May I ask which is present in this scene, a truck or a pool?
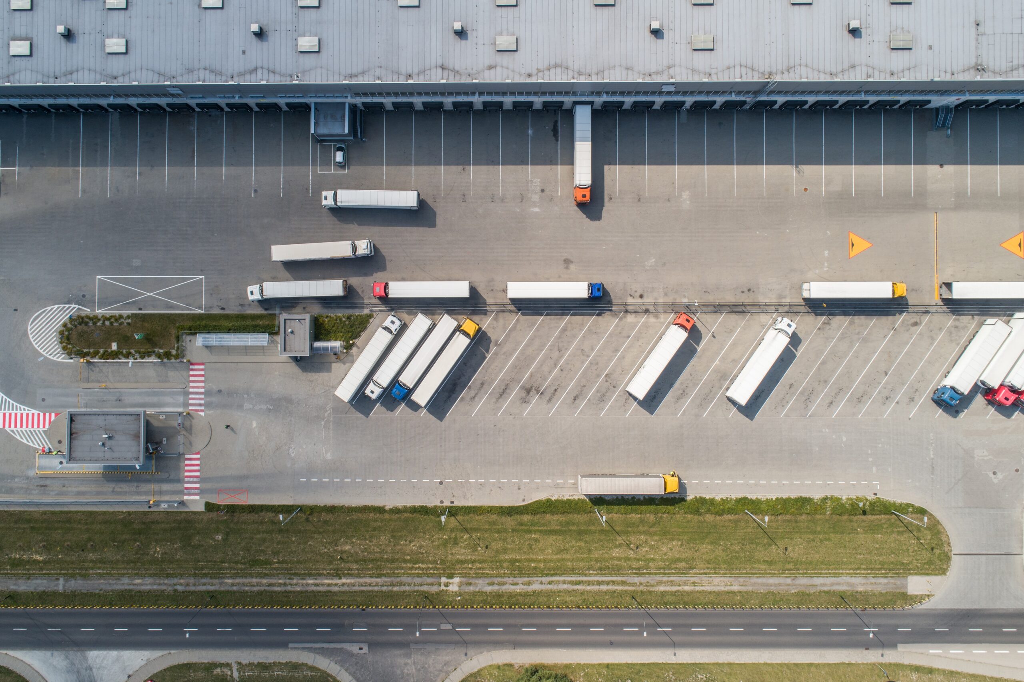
truck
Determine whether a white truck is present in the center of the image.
Yes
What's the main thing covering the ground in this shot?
paved ground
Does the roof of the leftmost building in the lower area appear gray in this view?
Yes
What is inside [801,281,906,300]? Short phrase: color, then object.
white vehicle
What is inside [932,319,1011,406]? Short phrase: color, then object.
white truck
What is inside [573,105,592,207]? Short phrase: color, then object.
white vehicle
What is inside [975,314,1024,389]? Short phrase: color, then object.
white trailer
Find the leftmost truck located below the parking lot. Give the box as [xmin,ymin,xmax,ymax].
[579,473,679,495]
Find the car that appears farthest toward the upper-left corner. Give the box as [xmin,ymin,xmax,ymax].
[333,141,346,165]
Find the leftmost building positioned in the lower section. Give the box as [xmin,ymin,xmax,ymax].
[56,410,153,469]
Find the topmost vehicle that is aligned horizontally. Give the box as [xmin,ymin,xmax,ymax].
[321,189,420,209]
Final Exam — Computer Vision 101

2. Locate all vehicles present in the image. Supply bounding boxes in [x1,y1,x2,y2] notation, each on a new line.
[579,473,679,495]
[364,312,434,401]
[333,141,346,165]
[271,238,378,262]
[410,317,481,407]
[935,282,1024,299]
[389,314,460,401]
[321,189,420,209]
[334,312,405,402]
[932,319,1011,406]
[372,281,471,300]
[506,281,604,300]
[573,105,592,207]
[984,350,1024,406]
[247,280,348,303]
[726,316,797,406]
[626,312,696,400]
[801,281,906,300]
